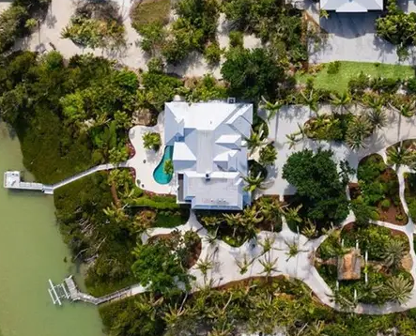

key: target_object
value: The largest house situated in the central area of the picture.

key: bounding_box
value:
[165,93,253,210]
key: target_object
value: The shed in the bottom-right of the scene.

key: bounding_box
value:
[338,246,361,288]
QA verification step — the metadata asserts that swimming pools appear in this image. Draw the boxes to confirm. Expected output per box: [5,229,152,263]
[152,145,175,186]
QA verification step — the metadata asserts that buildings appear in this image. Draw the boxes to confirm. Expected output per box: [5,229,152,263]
[338,246,361,288]
[319,0,384,12]
[165,93,253,210]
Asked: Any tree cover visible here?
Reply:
Yes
